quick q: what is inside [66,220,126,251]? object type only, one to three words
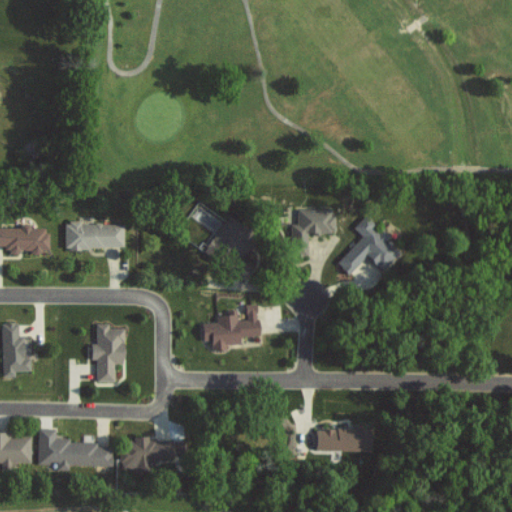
house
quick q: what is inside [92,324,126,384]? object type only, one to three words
house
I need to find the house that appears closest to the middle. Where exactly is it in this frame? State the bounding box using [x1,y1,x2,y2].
[208,222,264,262]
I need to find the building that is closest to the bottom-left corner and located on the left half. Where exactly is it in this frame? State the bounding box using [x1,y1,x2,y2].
[0,433,32,470]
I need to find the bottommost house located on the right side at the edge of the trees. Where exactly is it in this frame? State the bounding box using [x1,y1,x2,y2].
[318,422,374,452]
